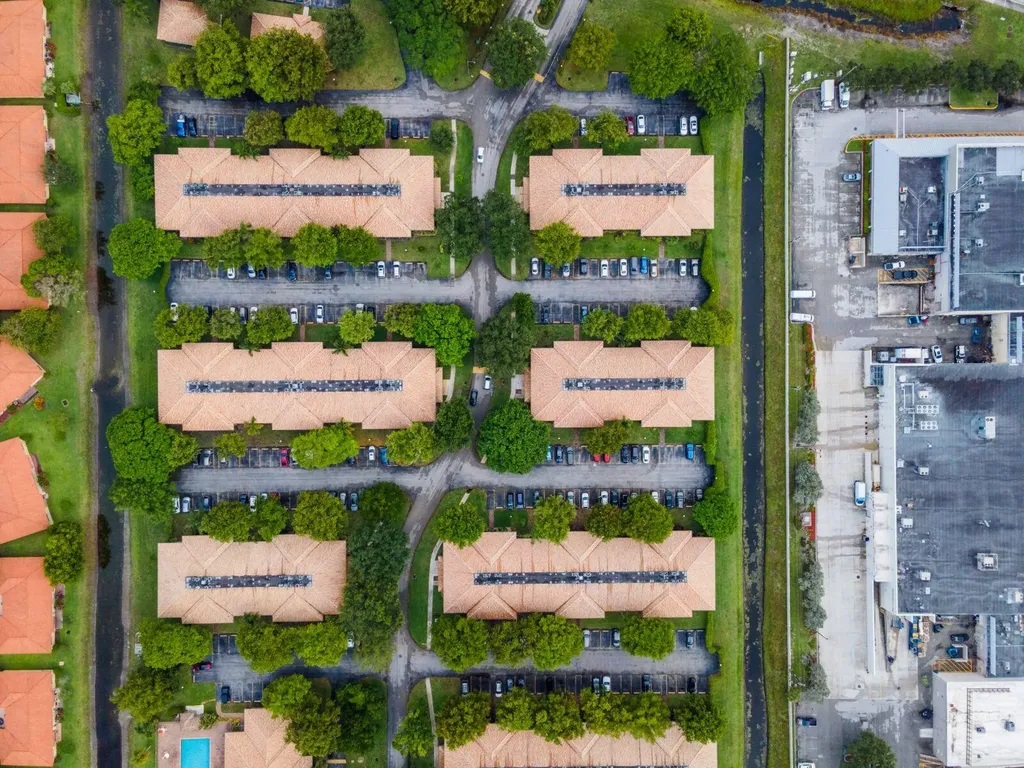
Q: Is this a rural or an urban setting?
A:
urban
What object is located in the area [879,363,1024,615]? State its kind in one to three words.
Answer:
warehouse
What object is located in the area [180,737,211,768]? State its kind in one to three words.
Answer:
swimming pool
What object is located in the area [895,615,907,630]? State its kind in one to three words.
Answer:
vehicle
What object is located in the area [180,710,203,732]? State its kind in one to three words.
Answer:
building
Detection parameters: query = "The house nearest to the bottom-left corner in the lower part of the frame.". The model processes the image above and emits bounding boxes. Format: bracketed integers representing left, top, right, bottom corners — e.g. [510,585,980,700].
[0,668,59,767]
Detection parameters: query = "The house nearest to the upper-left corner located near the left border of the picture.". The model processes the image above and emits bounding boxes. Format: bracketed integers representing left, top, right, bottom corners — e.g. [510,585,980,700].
[0,1,50,100]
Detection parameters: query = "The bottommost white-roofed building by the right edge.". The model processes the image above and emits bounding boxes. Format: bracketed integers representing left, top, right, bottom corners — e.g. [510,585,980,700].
[933,672,1024,768]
